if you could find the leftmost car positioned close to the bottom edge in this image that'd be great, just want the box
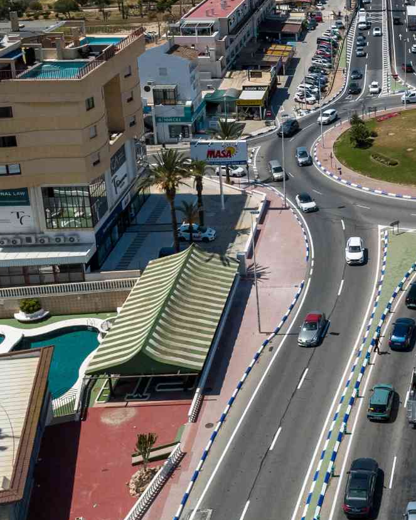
[345,454,381,508]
